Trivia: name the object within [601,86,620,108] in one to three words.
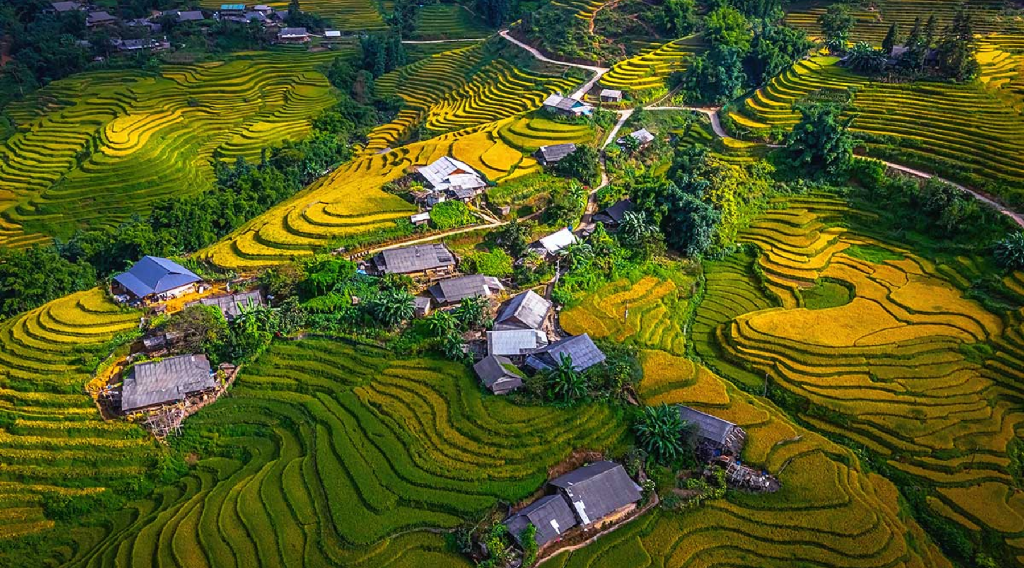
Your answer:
shed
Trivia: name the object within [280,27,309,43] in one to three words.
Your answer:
house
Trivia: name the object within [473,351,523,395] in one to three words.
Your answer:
shed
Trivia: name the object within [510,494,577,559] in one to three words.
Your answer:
house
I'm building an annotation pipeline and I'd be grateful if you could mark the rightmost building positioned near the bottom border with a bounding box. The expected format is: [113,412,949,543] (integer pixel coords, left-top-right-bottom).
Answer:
[553,458,643,540]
